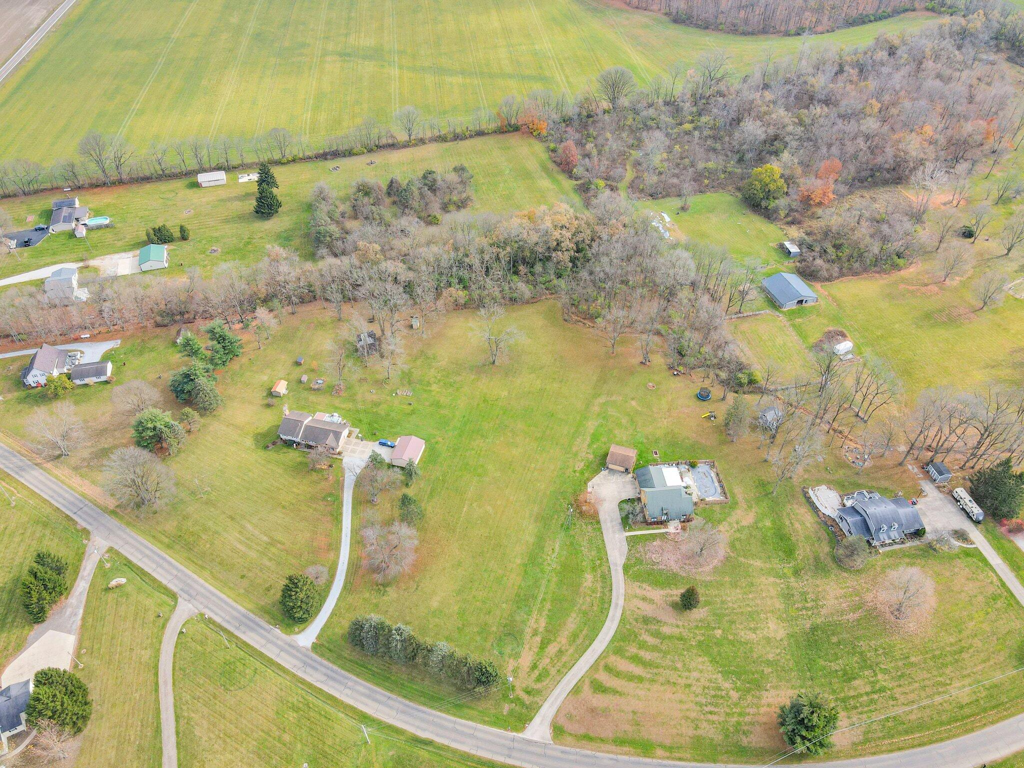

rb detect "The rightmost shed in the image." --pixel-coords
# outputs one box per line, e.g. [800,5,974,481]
[928,460,951,482]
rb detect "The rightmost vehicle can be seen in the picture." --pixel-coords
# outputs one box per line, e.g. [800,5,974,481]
[954,486,987,521]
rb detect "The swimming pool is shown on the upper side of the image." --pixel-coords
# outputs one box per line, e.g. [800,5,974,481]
[80,216,116,228]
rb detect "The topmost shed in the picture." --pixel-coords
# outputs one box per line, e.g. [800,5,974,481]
[197,171,227,188]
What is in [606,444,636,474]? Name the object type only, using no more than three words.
building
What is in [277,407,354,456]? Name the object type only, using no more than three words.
house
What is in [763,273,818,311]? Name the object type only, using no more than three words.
barn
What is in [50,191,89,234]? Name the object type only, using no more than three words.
house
